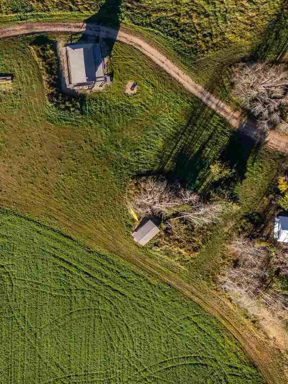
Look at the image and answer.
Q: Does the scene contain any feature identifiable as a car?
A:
No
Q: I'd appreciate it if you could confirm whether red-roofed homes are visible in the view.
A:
No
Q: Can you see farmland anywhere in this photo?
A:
Yes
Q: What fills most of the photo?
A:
grass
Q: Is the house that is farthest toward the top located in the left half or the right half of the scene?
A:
left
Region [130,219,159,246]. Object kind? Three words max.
shed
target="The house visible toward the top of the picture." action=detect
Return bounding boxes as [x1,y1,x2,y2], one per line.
[58,41,105,92]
